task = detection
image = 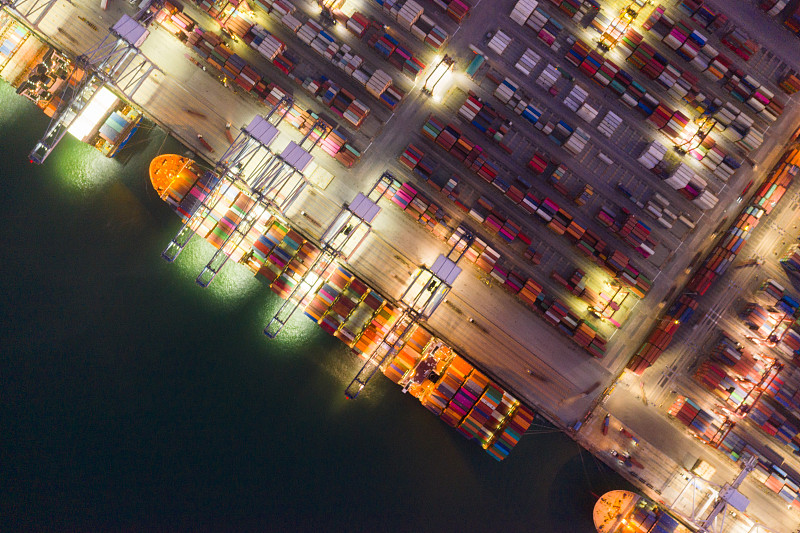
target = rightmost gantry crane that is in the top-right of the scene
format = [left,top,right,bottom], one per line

[668,112,718,157]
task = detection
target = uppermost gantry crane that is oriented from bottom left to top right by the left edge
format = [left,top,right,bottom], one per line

[28,0,173,165]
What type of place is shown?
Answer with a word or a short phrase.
port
